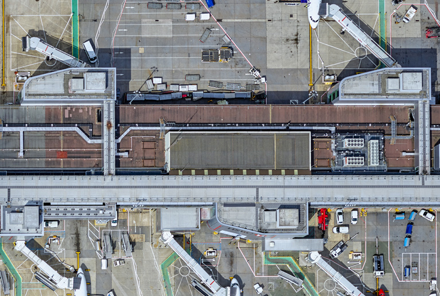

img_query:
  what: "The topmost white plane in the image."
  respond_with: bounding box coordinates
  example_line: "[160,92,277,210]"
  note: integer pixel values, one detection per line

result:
[308,0,322,28]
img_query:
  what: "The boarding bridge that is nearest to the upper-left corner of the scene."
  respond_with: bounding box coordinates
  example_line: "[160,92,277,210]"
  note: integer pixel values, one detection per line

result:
[19,37,94,67]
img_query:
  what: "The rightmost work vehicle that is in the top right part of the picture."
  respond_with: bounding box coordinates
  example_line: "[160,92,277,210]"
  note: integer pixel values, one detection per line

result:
[423,25,440,38]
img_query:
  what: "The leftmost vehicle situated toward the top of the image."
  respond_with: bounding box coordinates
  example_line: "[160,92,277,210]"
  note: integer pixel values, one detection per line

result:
[81,38,97,63]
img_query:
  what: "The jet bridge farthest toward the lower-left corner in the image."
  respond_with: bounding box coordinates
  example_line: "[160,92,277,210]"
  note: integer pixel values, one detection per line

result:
[13,239,80,291]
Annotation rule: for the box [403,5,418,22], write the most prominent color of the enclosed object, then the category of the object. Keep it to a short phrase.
white vehicle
